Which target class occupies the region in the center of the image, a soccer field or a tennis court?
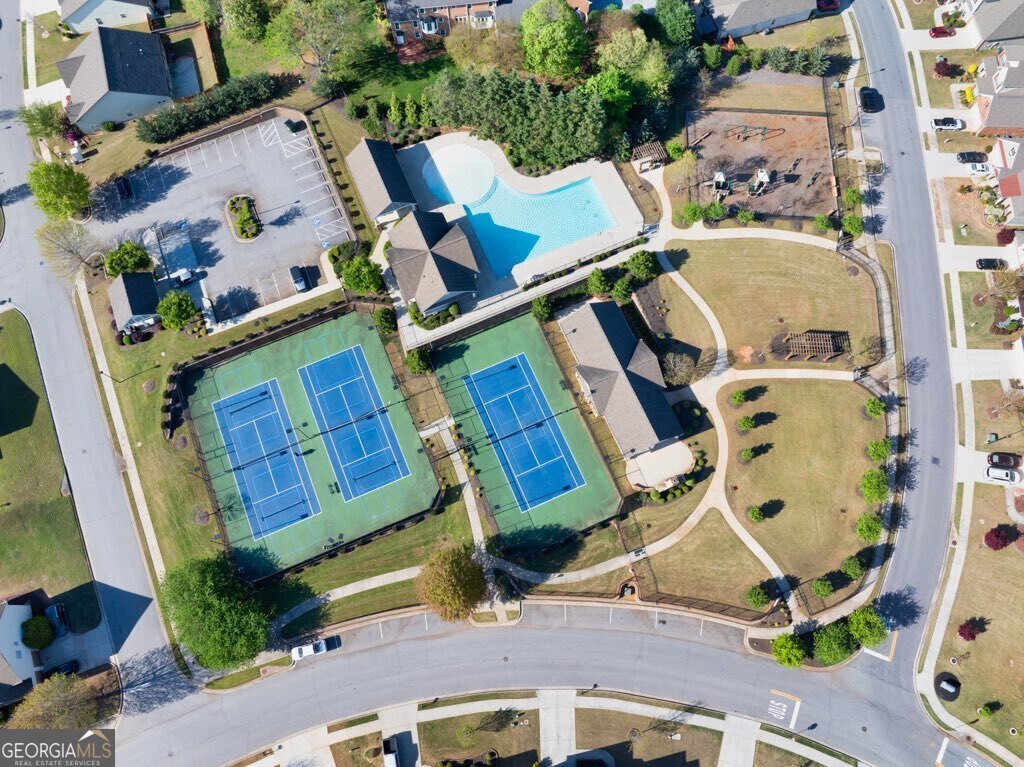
tennis court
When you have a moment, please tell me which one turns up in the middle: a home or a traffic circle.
home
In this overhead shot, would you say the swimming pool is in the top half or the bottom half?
top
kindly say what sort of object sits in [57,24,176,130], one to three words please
house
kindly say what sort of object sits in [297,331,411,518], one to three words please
tennis court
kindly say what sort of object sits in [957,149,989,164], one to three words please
car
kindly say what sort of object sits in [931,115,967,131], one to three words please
vehicle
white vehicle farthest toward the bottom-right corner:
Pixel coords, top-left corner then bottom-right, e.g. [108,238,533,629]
[985,468,1022,486]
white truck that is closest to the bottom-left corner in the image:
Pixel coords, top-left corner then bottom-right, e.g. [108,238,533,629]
[287,638,329,662]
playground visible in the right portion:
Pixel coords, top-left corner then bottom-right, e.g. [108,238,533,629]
[694,106,841,220]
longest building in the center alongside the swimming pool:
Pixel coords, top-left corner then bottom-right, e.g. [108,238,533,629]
[558,299,684,460]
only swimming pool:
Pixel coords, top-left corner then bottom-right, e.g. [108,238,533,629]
[394,131,644,320]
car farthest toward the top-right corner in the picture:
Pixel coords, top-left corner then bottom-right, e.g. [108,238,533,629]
[930,23,958,37]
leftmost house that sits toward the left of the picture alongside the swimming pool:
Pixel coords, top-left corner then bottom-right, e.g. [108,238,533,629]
[347,139,418,225]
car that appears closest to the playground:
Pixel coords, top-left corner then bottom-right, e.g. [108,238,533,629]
[861,87,876,111]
